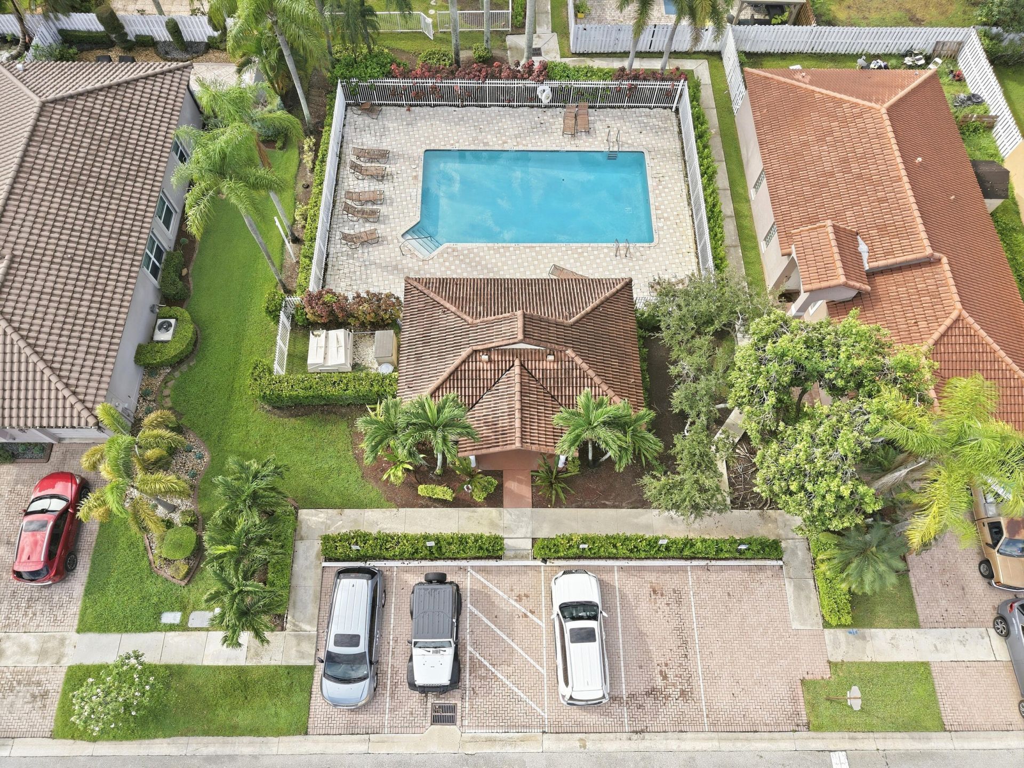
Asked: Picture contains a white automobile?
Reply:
Yes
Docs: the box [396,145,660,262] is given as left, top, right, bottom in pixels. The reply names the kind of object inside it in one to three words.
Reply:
swimming pool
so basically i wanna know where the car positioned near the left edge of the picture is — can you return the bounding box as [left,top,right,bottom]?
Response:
[5,472,93,589]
